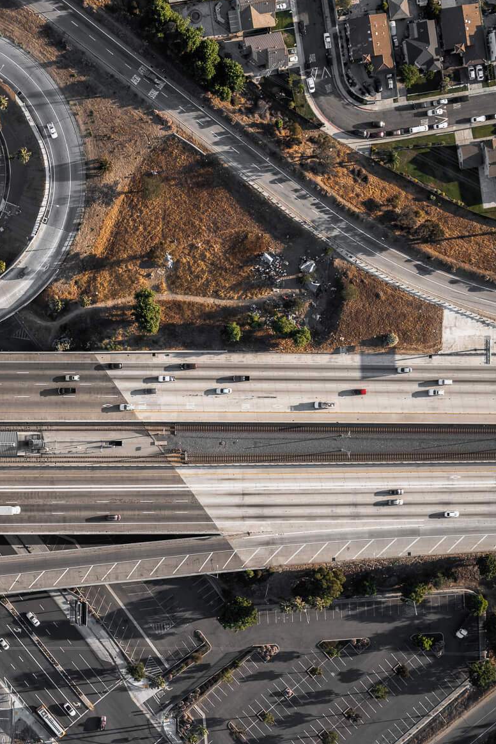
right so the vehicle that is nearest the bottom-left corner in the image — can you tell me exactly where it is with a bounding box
[35,701,65,738]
